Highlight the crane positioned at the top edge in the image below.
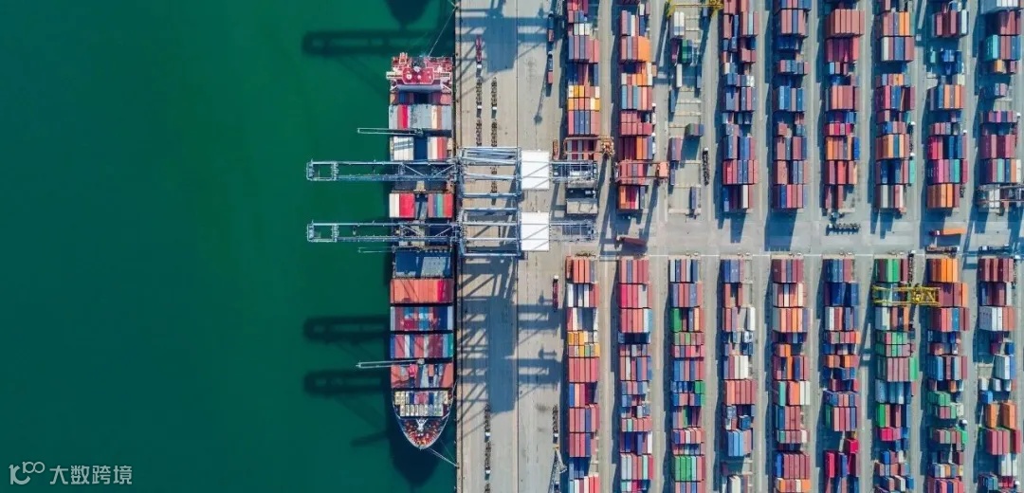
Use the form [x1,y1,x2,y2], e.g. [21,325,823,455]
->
[661,0,723,24]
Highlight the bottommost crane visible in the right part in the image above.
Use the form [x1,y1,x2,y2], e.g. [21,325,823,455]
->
[870,281,943,308]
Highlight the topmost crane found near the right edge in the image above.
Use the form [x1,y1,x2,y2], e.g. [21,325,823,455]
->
[972,183,1024,209]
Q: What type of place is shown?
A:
port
